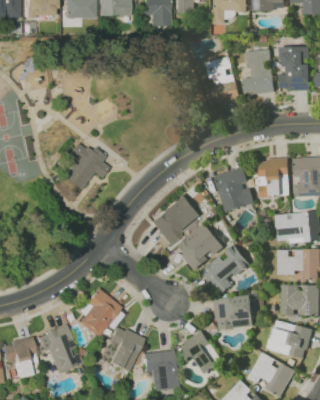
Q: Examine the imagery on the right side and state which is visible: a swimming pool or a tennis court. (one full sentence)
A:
Visible on the right side is a swimming pool.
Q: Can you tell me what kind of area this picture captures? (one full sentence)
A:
This image shows a residential area.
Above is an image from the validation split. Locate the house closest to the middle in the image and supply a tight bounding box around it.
[156,199,201,242]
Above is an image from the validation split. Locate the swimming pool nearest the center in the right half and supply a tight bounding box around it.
[230,206,258,235]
